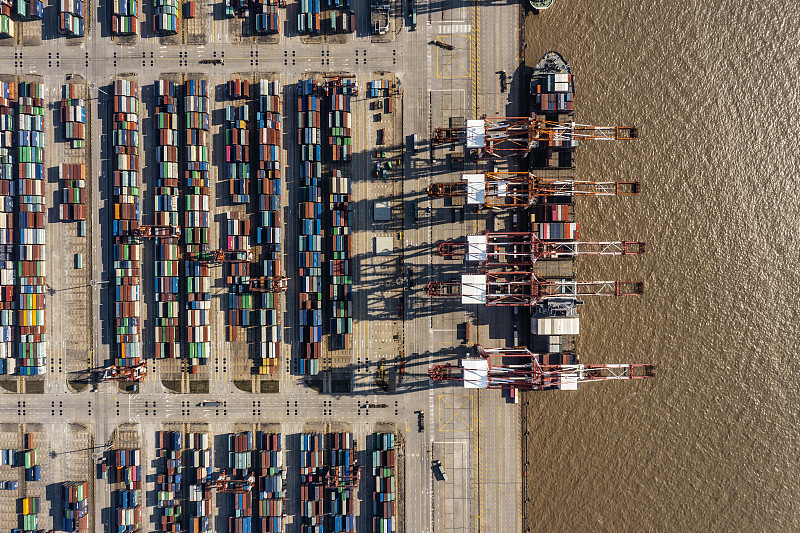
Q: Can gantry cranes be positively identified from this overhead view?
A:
Yes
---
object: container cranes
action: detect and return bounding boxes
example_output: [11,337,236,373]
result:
[427,342,656,393]
[324,76,359,98]
[438,230,646,270]
[430,116,638,166]
[326,465,361,488]
[215,468,255,492]
[139,224,183,241]
[251,276,288,292]
[213,248,254,264]
[427,171,641,216]
[103,362,146,381]
[427,267,645,309]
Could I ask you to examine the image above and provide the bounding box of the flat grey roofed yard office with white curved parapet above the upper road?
[371,8,390,35]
